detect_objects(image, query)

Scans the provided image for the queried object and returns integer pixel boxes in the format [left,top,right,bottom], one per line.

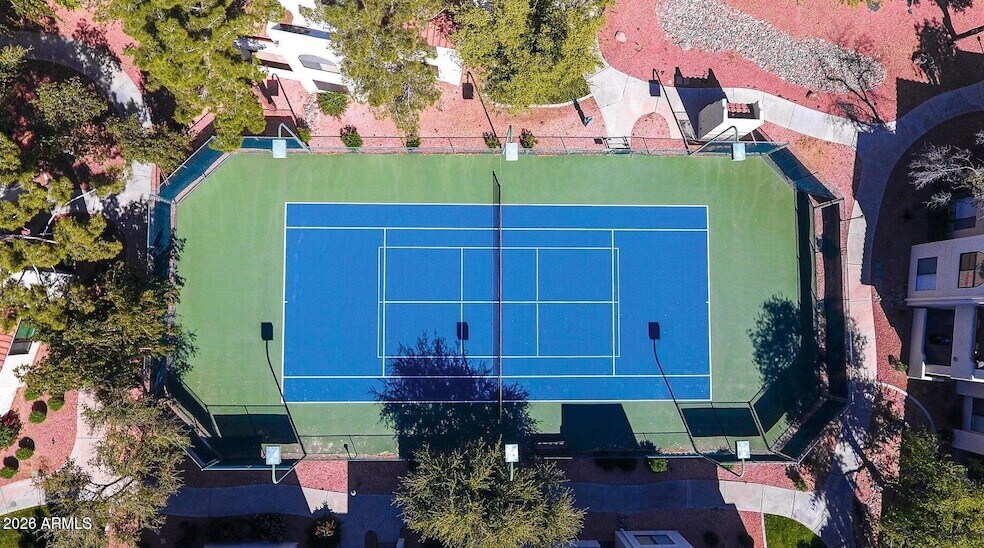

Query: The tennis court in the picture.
[170,150,824,460]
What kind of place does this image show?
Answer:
sports ground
